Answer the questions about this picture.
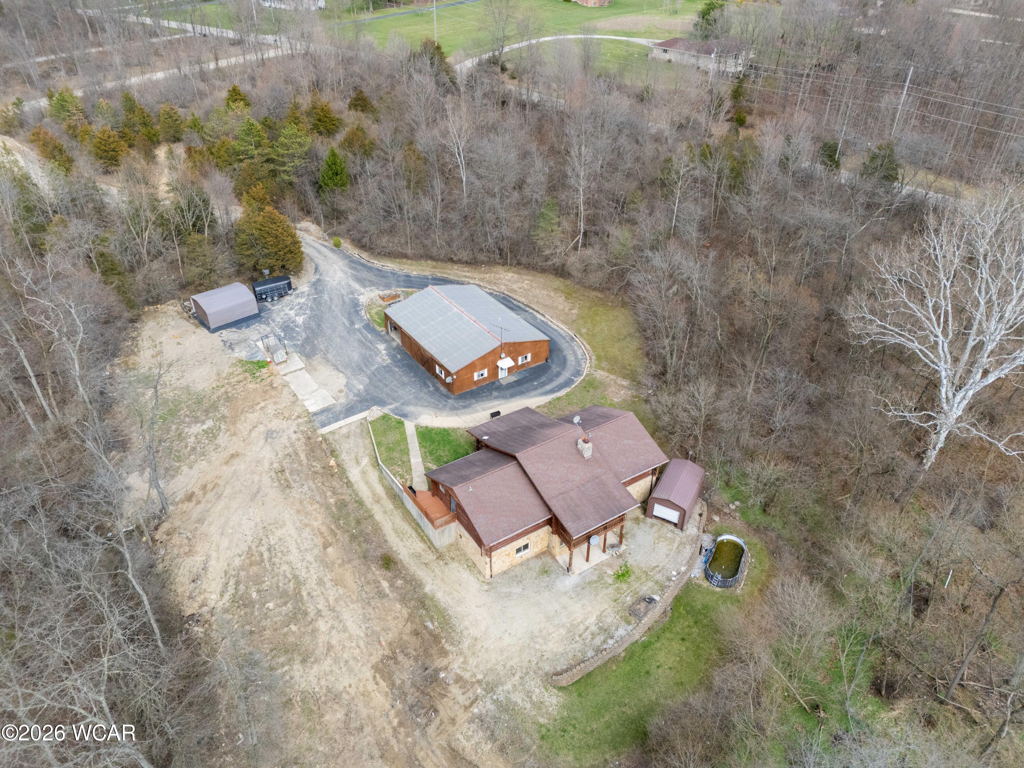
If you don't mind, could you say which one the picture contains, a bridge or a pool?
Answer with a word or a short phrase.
pool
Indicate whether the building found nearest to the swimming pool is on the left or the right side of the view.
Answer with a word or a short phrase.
right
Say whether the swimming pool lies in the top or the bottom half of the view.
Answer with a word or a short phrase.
bottom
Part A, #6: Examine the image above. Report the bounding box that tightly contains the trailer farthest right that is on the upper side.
[250,276,294,301]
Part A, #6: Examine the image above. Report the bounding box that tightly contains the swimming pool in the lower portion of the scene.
[703,533,751,589]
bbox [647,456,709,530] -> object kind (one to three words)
building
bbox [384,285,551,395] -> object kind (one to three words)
building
